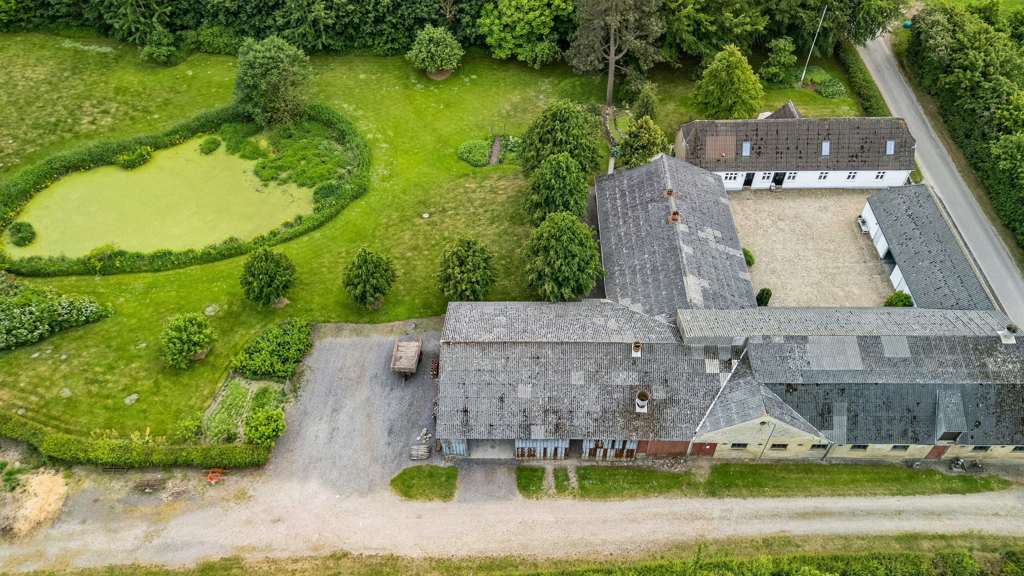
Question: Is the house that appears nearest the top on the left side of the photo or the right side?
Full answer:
The house that appears nearest the top sits on the right side.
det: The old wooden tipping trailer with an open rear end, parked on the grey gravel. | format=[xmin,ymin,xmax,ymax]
[391,337,423,386]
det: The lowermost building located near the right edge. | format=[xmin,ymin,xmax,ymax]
[677,305,1024,460]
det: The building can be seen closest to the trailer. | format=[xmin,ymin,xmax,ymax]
[436,299,735,460]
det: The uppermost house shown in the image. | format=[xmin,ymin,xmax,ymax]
[675,97,918,194]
